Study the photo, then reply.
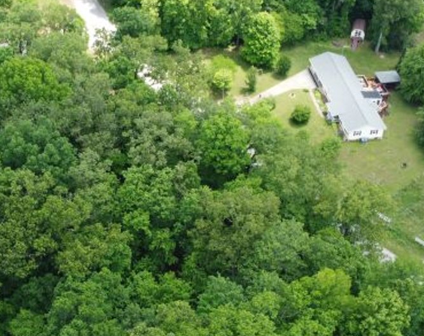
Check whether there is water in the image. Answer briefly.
No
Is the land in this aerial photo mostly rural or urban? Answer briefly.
rural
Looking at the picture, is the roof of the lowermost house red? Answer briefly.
No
